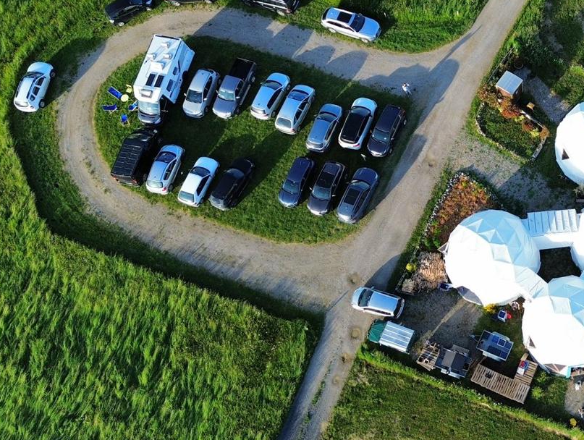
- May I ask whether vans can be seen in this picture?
Yes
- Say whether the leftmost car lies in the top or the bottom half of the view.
top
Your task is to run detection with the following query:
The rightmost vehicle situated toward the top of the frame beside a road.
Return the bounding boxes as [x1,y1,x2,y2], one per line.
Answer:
[368,104,405,157]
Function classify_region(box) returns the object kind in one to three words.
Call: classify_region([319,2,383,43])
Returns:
car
